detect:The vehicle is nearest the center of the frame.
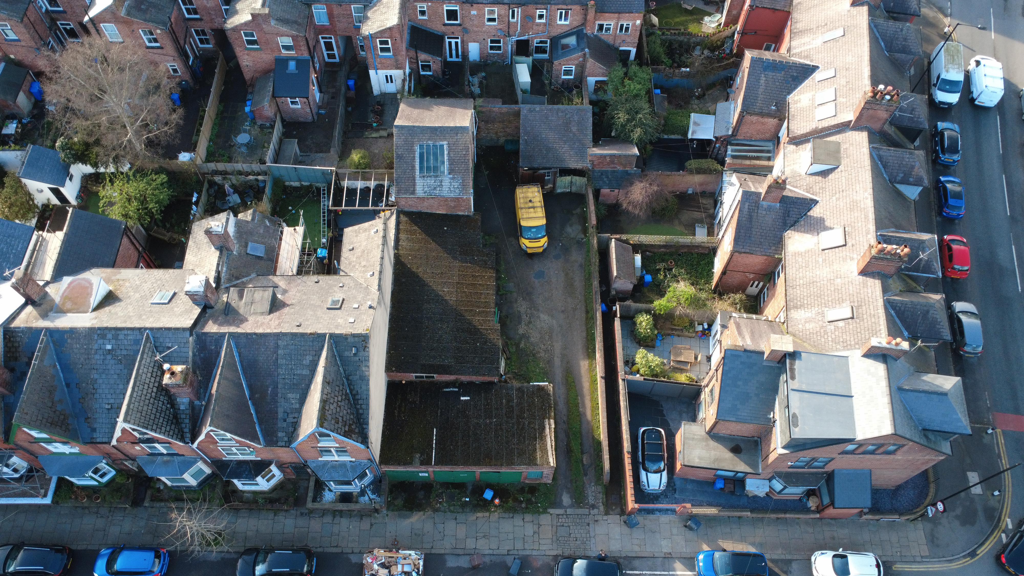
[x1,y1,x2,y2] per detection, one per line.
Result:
[516,181,551,255]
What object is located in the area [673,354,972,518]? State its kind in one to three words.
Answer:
house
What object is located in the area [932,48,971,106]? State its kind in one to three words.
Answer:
van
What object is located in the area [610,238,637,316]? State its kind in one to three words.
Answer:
shed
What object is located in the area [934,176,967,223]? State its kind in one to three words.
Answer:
car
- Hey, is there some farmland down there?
No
